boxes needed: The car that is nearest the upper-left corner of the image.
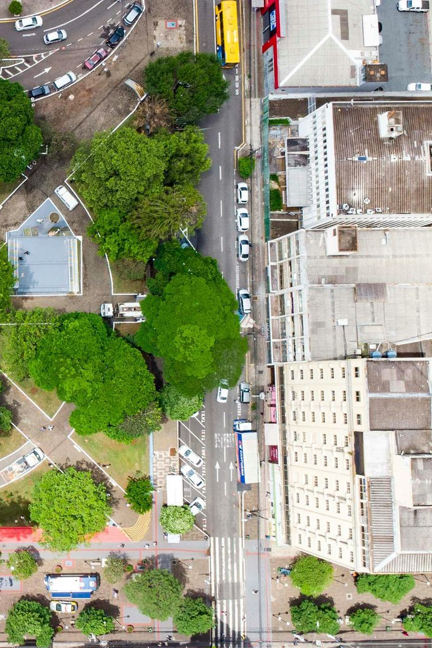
[15,16,42,31]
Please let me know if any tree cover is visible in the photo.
Yes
